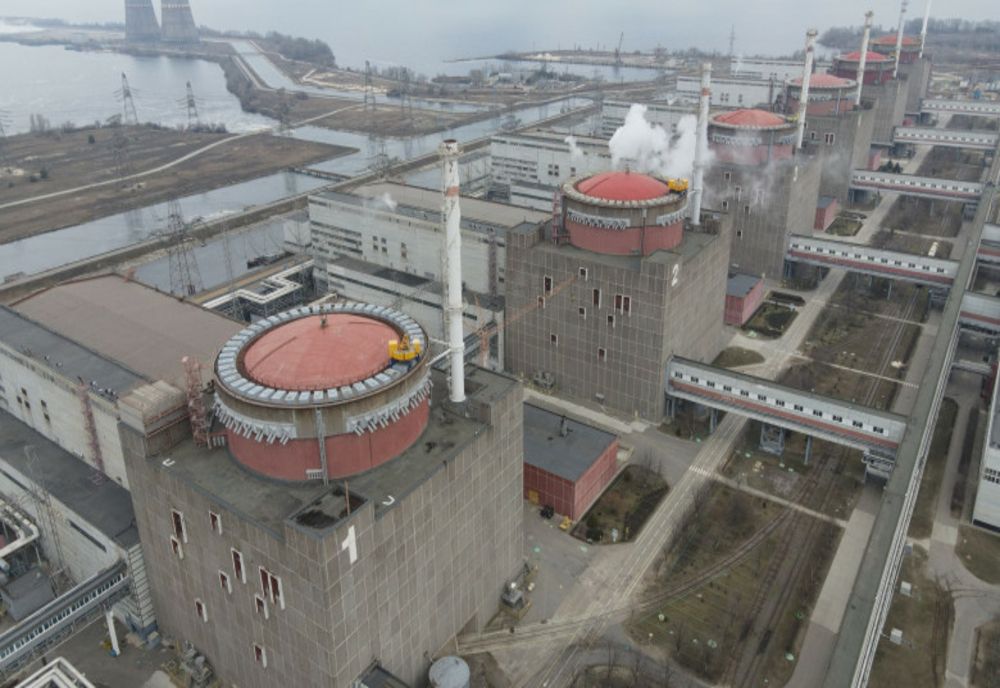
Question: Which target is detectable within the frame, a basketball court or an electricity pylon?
electricity pylon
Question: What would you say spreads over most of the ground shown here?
buildings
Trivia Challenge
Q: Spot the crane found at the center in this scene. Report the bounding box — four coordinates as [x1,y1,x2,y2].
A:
[462,280,587,371]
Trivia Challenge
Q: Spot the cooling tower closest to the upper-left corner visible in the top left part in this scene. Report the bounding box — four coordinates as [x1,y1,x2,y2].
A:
[120,0,164,42]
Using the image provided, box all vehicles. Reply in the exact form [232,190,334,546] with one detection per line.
[540,508,556,518]
[561,514,572,527]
